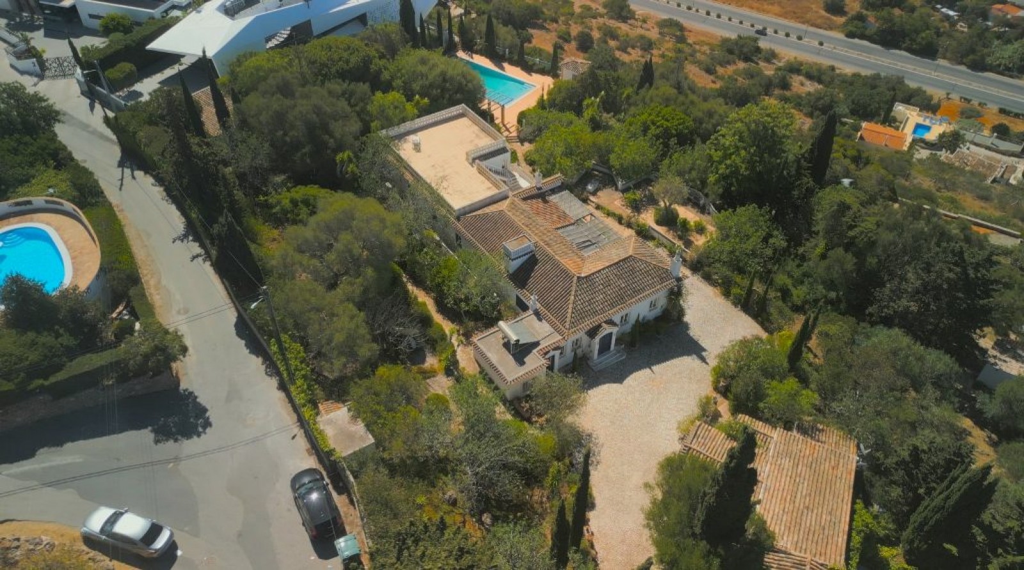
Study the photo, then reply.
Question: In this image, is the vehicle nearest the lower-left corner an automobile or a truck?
automobile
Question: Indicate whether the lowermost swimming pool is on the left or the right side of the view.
left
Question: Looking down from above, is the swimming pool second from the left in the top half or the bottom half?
top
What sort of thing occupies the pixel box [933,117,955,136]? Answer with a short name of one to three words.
umbrella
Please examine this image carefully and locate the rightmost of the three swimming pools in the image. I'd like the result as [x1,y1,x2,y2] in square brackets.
[901,116,949,149]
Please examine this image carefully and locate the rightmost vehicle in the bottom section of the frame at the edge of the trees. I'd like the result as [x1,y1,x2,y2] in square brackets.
[293,471,343,546]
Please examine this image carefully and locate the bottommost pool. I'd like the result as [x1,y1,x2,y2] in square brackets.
[0,214,107,349]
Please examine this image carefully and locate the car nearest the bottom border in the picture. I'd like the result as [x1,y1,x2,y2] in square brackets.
[89,510,173,564]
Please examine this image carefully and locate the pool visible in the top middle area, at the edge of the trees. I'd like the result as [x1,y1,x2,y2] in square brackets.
[441,49,554,158]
